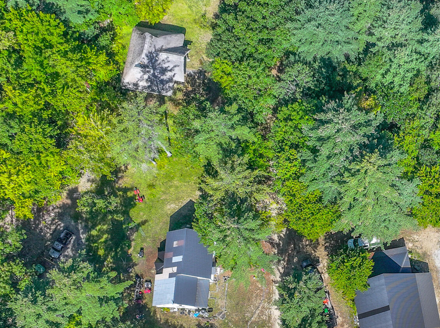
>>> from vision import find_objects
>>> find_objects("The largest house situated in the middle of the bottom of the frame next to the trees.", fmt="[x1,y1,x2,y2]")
[152,227,218,309]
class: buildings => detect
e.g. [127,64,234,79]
[121,27,194,98]
[152,227,218,309]
[352,272,440,328]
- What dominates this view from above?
trees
